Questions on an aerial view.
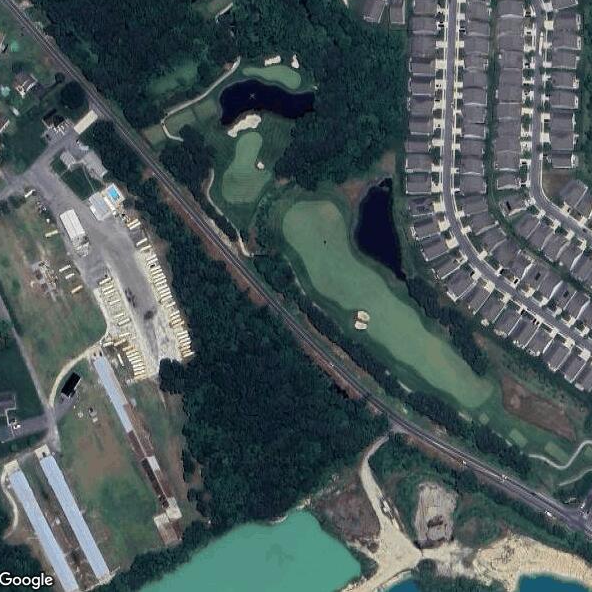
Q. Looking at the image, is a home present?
Yes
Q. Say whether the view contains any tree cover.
Yes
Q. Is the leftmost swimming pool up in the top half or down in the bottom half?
top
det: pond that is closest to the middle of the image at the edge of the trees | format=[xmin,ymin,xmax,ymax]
[358,178,405,279]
